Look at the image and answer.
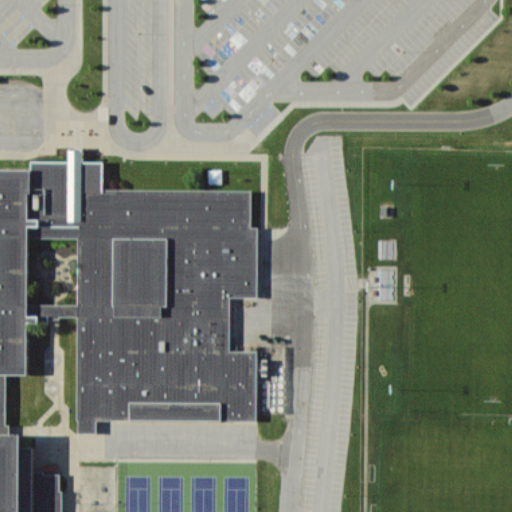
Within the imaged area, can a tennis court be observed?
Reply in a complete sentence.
Yes, a tennis court can be made out from above.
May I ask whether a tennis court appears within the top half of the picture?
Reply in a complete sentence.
No, the scene shows no tennis court within the top half of the picture.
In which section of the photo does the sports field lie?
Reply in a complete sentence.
You can find the sports field in the right area of the picture.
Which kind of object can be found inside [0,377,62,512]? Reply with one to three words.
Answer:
building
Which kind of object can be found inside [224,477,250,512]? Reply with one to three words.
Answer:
tennis court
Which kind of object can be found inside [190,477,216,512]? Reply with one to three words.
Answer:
tennis court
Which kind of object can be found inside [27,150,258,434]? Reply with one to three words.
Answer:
building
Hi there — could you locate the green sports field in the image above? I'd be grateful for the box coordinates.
[442,153,512,416]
